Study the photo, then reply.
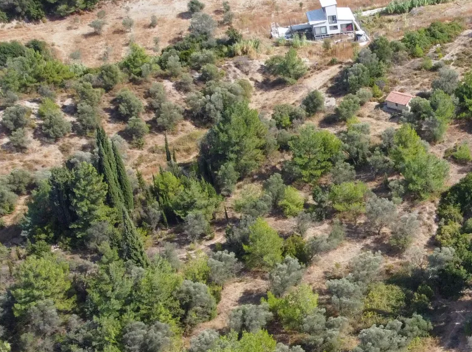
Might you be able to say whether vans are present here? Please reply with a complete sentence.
No, the photo shows no van.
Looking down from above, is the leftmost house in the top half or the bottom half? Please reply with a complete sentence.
The top half of the photo is where the leftmost house is.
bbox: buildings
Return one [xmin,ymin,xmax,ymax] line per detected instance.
[302,0,354,37]
[382,89,418,113]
